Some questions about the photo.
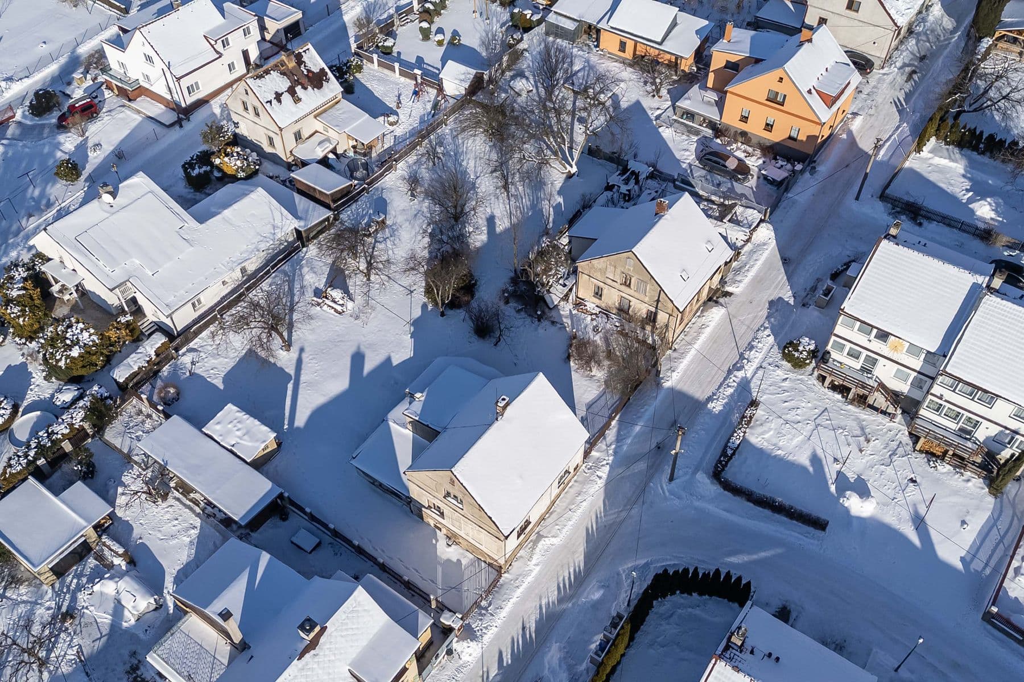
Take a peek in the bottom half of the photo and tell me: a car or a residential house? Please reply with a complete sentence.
Looking in the bottom half of the photo, you will find a residential house.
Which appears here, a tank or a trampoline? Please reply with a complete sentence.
Looking from above, you can make out a trampoline.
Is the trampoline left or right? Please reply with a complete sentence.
The trampoline sits on the left side.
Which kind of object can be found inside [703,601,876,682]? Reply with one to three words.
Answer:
house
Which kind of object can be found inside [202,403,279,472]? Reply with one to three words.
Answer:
shed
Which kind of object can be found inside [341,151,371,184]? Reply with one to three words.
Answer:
trampoline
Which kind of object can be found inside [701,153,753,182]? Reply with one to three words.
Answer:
car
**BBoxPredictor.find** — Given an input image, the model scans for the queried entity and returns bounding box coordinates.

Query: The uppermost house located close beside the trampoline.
[225,44,389,167]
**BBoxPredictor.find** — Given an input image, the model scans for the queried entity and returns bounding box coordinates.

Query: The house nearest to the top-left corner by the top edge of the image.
[98,0,270,114]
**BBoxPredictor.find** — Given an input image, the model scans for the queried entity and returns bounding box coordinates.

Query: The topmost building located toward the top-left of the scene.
[254,0,304,40]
